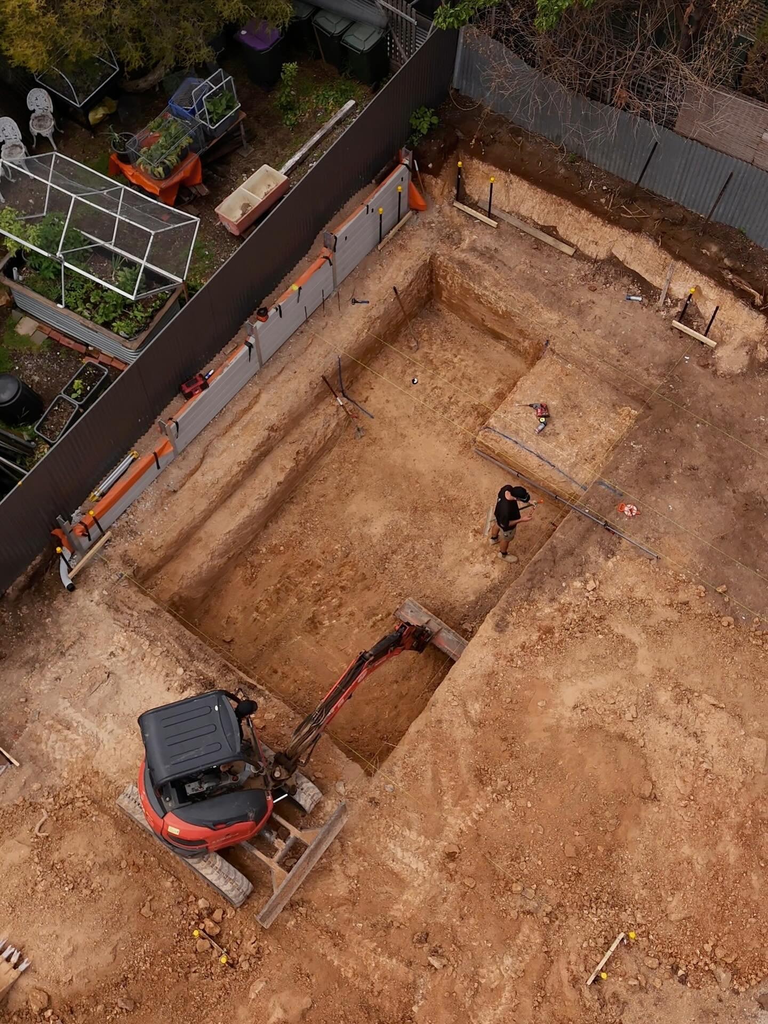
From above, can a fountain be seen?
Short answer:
No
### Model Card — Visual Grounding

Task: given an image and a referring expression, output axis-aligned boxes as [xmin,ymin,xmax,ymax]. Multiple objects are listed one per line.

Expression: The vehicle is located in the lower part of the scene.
[114,591,474,927]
